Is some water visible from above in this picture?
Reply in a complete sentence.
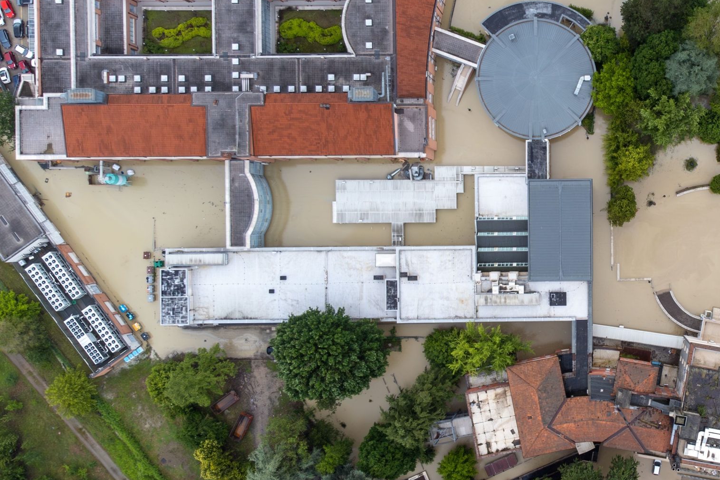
Yes, water shows up in the scene.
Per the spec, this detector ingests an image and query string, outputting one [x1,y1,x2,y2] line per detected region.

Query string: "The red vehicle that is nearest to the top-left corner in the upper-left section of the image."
[1,0,18,19]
